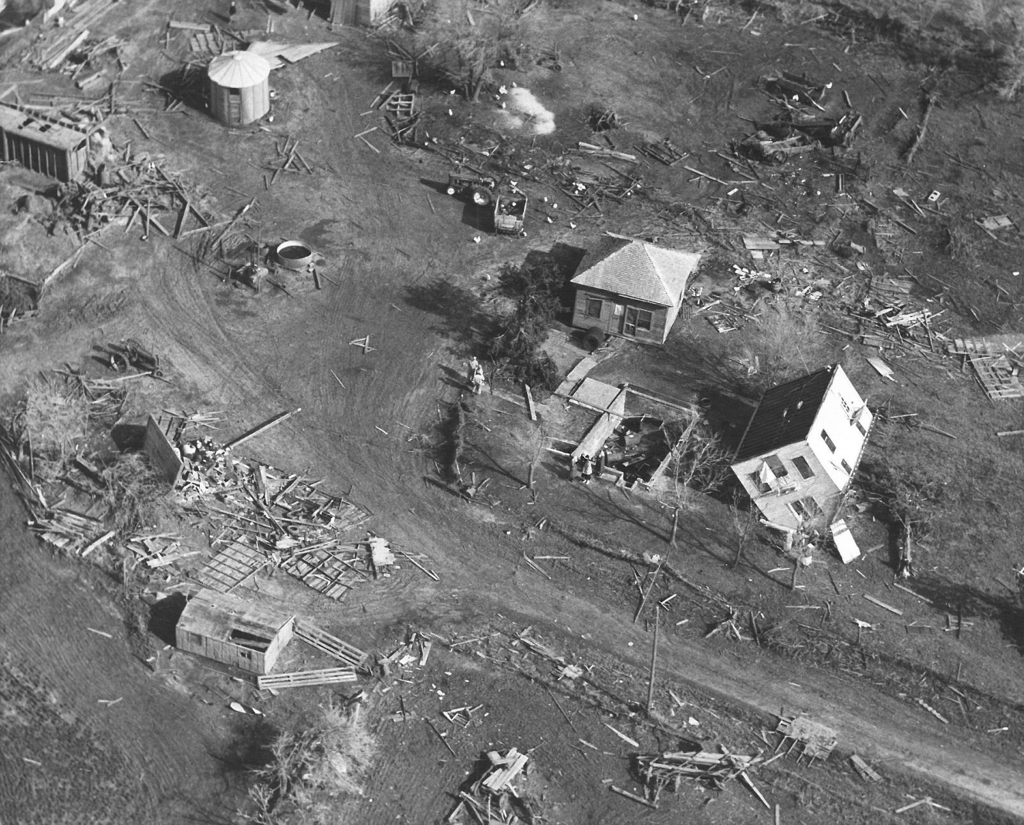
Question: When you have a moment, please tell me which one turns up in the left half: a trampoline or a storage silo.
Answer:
storage silo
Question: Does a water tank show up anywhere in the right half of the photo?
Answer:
No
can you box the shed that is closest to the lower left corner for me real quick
[170,580,295,679]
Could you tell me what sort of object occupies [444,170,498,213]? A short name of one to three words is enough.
work vehicle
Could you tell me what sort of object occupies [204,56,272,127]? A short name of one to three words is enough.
silo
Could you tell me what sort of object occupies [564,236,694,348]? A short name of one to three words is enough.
house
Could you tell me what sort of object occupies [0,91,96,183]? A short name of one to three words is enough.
shed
